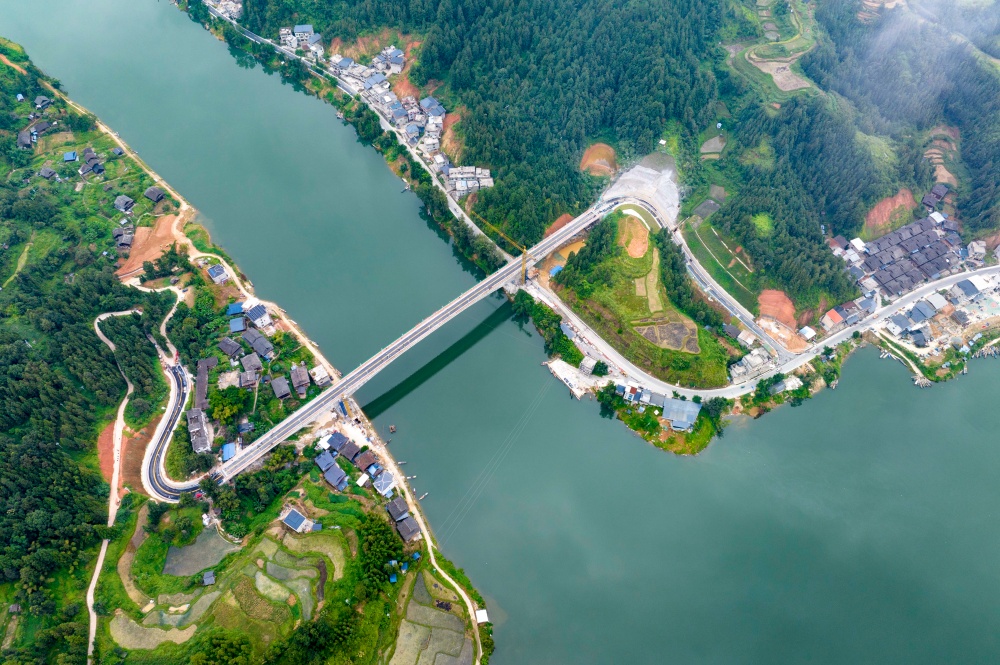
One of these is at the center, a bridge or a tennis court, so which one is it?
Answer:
bridge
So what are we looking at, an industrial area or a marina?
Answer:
marina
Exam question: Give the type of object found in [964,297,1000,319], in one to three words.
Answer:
basketball court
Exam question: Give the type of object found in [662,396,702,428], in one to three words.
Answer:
building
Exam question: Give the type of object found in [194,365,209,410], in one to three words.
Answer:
house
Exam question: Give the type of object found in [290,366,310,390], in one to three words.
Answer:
house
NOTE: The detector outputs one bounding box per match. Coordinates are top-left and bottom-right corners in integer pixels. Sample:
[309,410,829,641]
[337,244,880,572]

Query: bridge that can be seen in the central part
[219,208,600,478]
